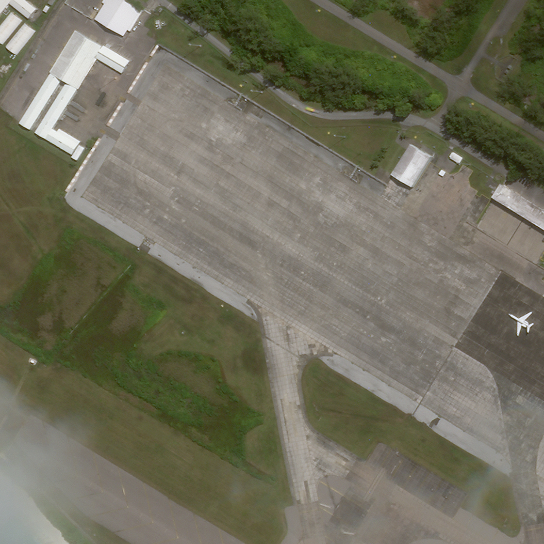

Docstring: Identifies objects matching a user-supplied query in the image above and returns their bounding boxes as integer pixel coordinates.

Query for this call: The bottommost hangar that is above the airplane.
[491,184,544,230]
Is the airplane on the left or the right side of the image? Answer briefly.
right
